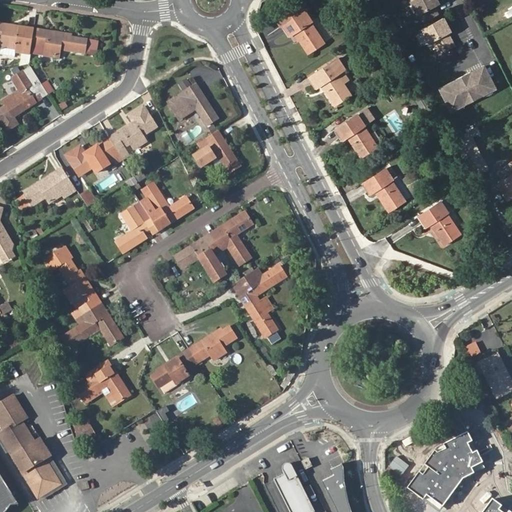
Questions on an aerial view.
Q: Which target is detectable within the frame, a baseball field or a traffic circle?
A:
traffic circle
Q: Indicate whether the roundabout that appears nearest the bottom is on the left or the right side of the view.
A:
right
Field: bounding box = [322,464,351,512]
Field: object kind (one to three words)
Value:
building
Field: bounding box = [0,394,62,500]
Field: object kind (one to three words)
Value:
building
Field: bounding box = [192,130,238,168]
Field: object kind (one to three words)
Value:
house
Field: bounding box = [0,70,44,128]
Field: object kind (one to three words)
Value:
house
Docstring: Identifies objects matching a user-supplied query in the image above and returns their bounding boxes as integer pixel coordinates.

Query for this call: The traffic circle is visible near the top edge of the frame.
[163,0,254,50]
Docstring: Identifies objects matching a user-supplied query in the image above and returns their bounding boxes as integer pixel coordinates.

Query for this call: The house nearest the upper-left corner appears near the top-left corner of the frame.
[0,22,34,54]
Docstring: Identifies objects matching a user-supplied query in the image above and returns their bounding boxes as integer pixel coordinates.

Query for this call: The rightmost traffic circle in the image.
[306,295,444,434]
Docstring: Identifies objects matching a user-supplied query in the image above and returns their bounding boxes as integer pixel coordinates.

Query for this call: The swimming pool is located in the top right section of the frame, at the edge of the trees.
[386,111,404,136]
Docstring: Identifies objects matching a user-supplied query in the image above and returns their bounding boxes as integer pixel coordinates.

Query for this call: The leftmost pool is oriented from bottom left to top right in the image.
[97,173,120,192]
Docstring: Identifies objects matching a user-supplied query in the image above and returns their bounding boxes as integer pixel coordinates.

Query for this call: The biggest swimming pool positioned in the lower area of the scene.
[176,392,199,413]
